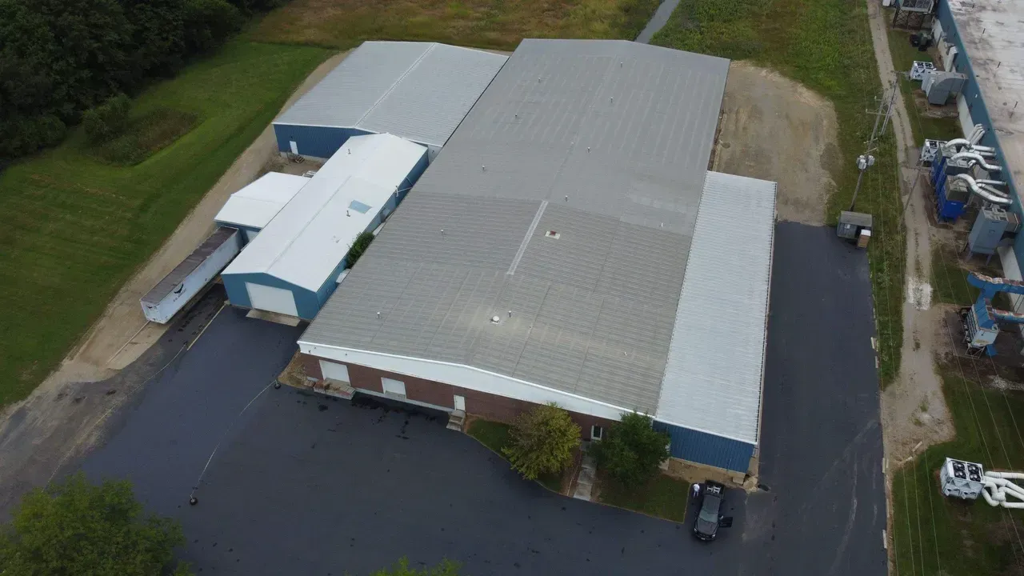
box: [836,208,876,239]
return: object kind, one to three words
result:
shed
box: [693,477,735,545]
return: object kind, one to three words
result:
truck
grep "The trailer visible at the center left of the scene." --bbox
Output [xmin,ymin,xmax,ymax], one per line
[140,225,243,326]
